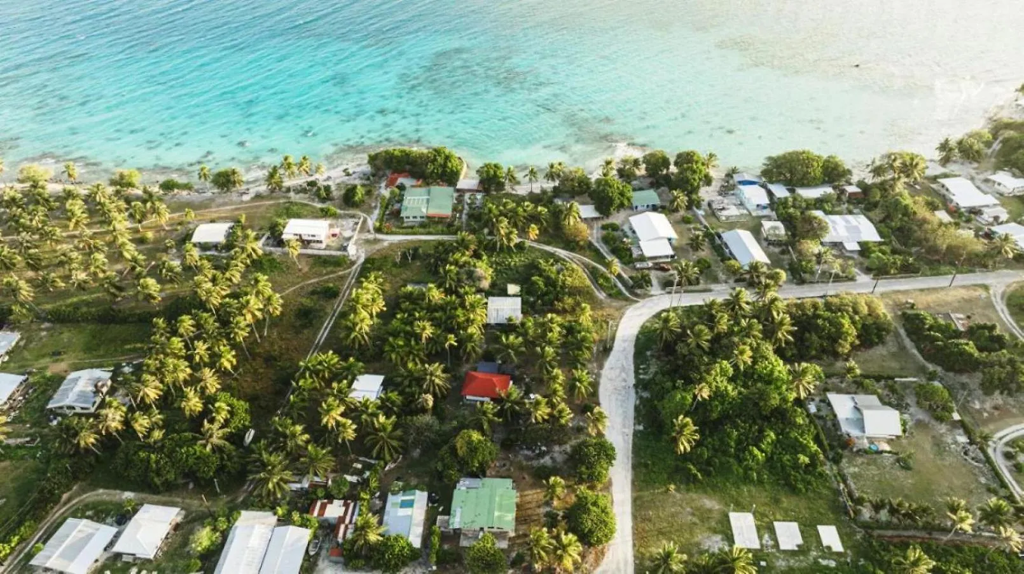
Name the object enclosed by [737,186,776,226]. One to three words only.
house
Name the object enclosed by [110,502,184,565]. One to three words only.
house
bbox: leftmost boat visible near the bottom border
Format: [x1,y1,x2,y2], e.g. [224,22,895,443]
[306,536,321,556]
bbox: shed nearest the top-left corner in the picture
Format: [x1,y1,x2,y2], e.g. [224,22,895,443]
[192,222,235,250]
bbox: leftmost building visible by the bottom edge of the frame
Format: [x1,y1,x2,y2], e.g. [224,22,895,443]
[24,516,122,574]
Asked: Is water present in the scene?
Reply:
Yes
